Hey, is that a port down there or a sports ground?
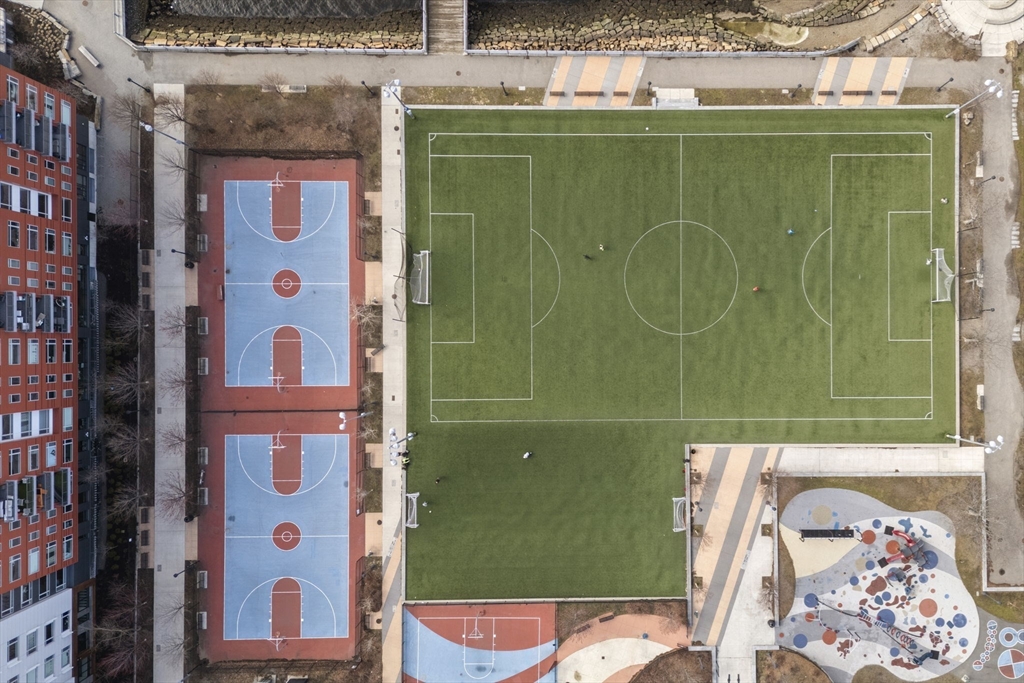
sports ground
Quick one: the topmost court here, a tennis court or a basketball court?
basketball court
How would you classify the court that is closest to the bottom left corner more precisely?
basketball court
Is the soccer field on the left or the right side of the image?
right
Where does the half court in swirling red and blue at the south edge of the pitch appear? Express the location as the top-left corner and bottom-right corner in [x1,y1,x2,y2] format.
[404,604,556,683]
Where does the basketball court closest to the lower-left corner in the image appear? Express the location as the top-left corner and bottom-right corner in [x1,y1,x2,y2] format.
[200,412,363,661]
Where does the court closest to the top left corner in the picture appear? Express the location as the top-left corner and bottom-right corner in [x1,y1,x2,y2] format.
[198,157,363,411]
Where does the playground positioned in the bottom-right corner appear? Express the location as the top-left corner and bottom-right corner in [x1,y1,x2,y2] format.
[777,488,979,683]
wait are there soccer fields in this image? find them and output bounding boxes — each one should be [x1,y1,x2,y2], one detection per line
[400,105,959,603]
